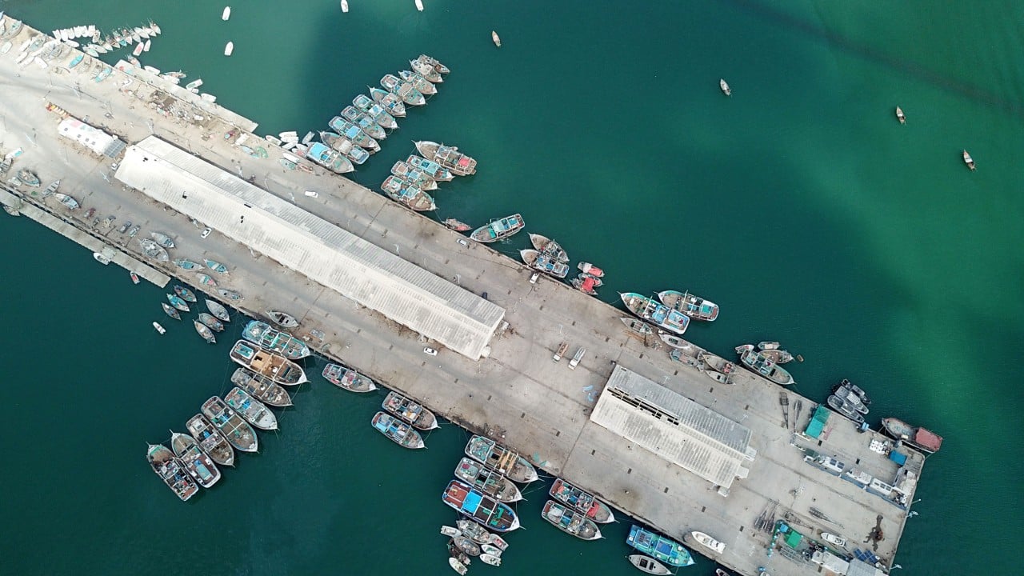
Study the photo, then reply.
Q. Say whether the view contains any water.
Yes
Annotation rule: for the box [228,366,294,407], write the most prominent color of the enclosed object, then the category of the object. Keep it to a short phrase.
gray boat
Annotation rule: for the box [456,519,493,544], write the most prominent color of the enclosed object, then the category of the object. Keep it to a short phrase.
gray boat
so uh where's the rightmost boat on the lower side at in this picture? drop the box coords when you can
[877,416,944,456]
